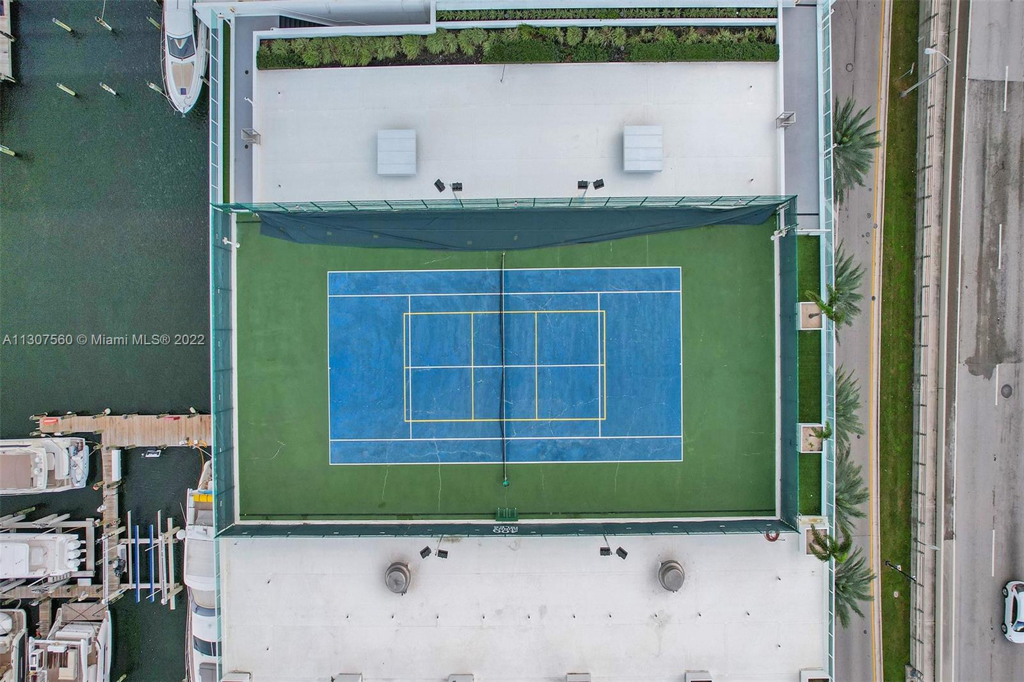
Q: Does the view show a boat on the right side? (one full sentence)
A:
No, I can find no boat on the right side.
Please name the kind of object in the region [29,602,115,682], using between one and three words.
boat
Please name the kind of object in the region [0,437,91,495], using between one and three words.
boat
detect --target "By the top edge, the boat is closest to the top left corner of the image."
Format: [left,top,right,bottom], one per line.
[160,0,209,118]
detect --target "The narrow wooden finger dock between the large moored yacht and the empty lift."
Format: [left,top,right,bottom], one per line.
[102,446,121,596]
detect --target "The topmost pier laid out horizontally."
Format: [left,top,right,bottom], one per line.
[40,414,212,446]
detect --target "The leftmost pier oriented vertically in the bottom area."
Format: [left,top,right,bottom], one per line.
[39,598,53,638]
